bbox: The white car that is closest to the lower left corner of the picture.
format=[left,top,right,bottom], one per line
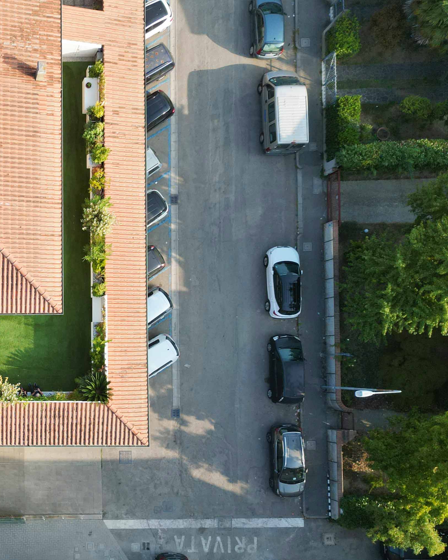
[150,334,184,377]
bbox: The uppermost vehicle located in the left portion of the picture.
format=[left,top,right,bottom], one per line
[150,0,177,38]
